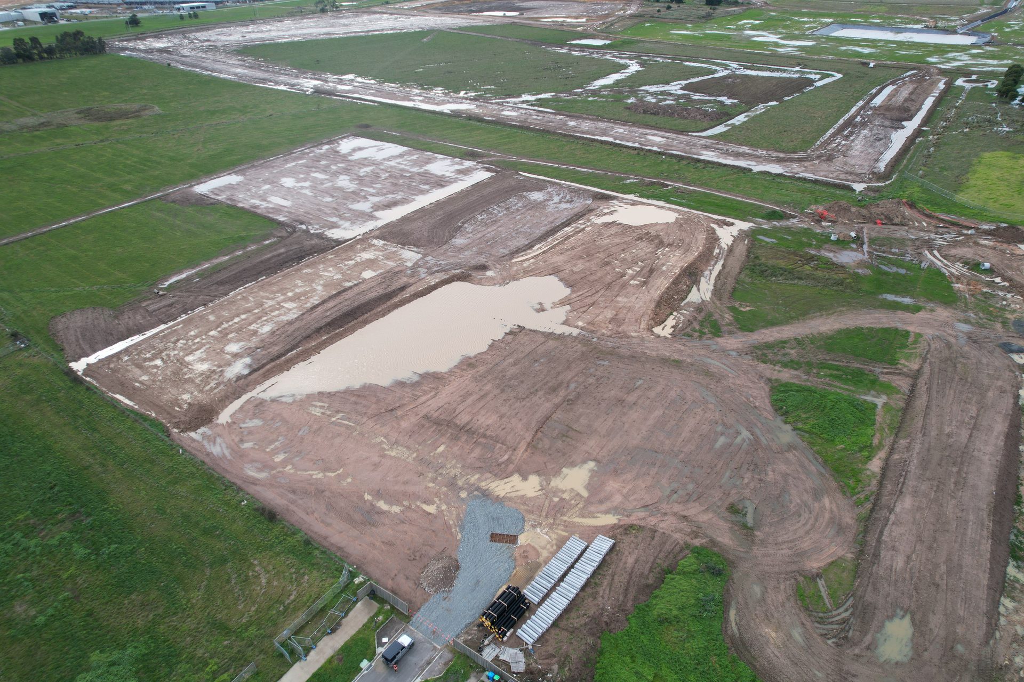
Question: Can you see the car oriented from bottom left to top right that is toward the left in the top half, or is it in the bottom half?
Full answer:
The bottom half of the photo is where the car oriented from bottom left to top right that is toward the left is.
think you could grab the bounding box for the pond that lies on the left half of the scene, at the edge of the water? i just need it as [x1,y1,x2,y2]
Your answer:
[218,273,582,425]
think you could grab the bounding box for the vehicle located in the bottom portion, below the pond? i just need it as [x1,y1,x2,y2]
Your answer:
[379,631,418,667]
